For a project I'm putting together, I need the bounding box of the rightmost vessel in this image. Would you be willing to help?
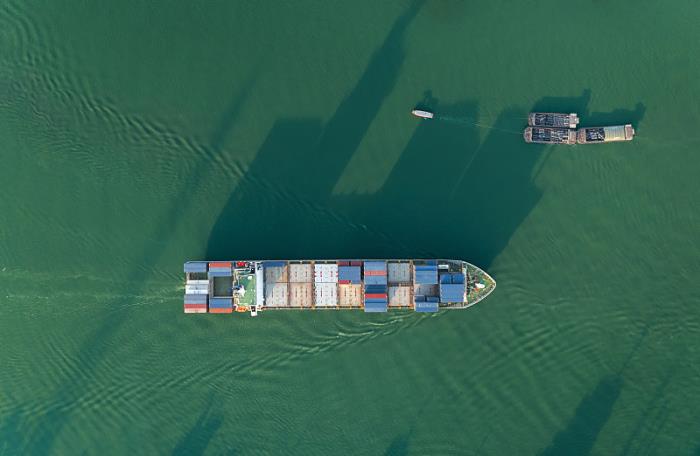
[578,125,635,145]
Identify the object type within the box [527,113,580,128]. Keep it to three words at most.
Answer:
ship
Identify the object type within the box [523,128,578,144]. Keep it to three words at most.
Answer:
ship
